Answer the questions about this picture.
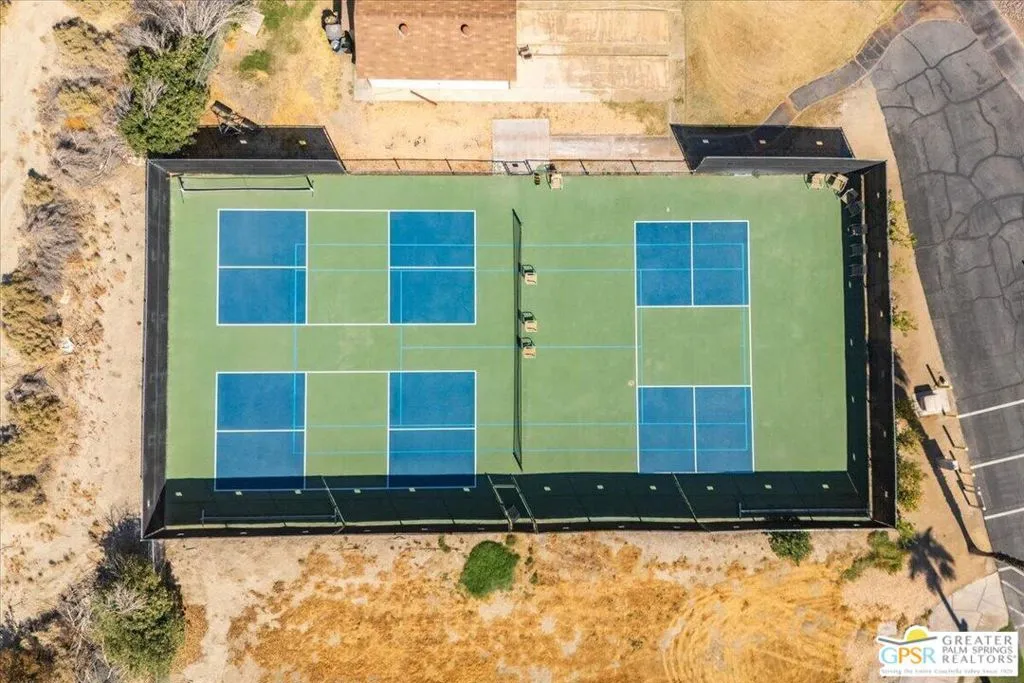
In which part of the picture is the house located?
top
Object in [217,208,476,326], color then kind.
blue sports court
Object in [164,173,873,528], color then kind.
green tennis court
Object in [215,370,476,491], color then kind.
blue sports court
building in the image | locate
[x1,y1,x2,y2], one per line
[353,0,518,91]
